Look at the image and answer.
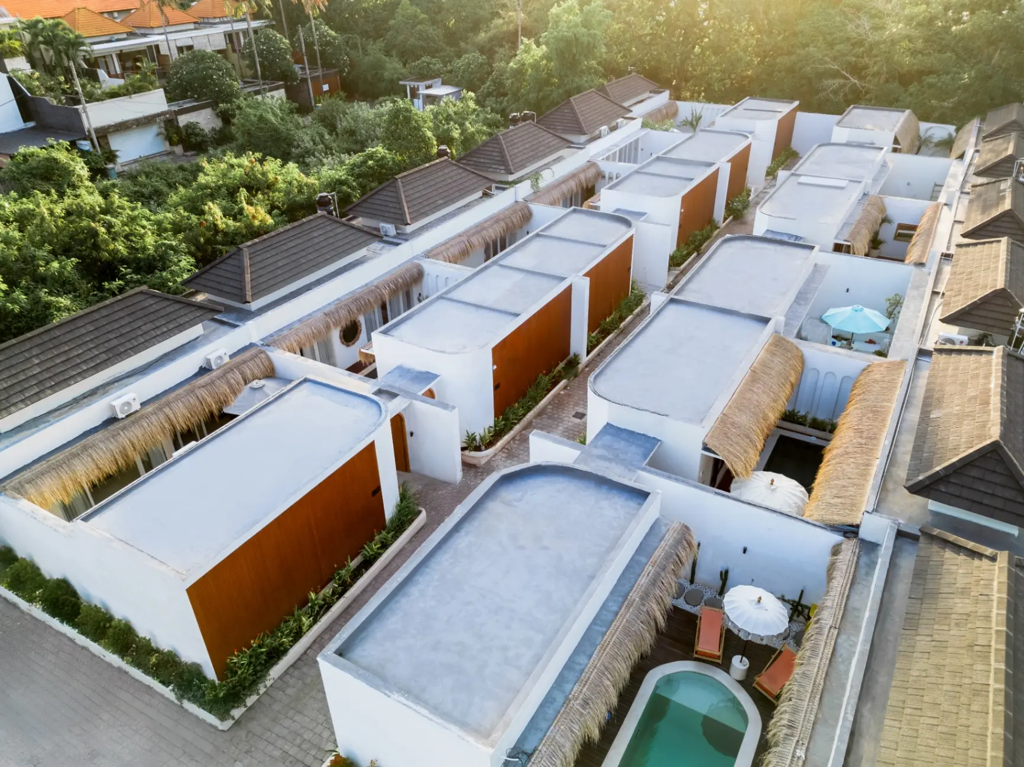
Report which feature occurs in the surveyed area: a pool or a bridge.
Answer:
pool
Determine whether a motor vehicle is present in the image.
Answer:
No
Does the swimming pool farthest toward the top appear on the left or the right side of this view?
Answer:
right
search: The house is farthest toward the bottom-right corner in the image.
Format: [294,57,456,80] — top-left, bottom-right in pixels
[867,519,1024,767]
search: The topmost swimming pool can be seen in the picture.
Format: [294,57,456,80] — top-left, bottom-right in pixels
[752,427,826,490]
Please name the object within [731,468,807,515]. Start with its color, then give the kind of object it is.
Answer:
white umbrella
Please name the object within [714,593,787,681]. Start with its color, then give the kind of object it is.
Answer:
white umbrella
